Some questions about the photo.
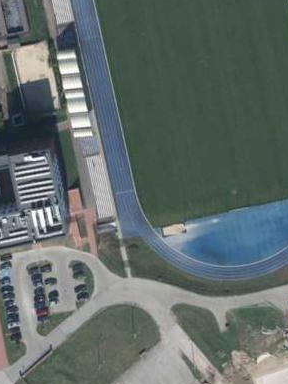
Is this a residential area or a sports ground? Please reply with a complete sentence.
This image shows a sports ground.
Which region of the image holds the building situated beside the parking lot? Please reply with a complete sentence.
The building situated beside the parking lot is located in the left region of the scene.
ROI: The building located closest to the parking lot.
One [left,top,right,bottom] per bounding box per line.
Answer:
[0,149,71,255]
